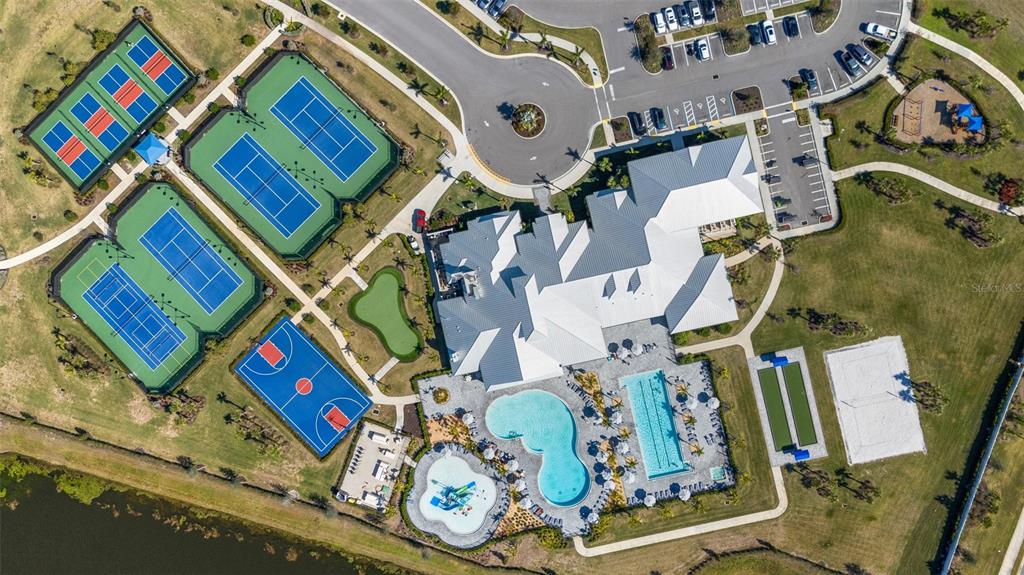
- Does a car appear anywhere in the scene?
Yes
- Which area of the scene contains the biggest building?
center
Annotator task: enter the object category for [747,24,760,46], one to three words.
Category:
vehicle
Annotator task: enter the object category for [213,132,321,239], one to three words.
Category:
tennis court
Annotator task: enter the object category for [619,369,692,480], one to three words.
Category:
swimming pool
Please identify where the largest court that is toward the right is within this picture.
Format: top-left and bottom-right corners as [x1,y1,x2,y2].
[824,336,926,466]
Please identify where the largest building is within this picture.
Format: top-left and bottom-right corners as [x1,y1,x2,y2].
[437,135,763,392]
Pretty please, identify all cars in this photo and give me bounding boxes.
[800,156,822,168]
[772,196,794,208]
[488,0,507,20]
[678,5,690,27]
[775,211,797,224]
[632,112,644,134]
[763,21,776,43]
[691,1,703,23]
[747,24,760,46]
[853,44,872,65]
[665,8,677,30]
[841,52,863,76]
[652,107,665,129]
[802,69,817,91]
[654,12,665,34]
[704,0,716,20]
[475,0,493,13]
[698,39,710,61]
[764,173,786,185]
[662,48,672,70]
[784,15,796,37]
